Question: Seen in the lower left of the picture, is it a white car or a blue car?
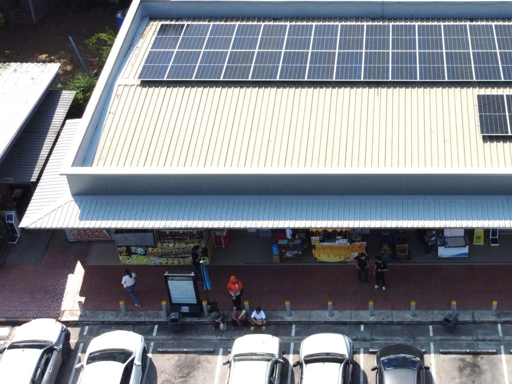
white car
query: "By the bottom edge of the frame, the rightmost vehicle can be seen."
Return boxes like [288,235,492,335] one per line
[369,343,432,384]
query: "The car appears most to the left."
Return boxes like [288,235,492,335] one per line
[0,318,66,384]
